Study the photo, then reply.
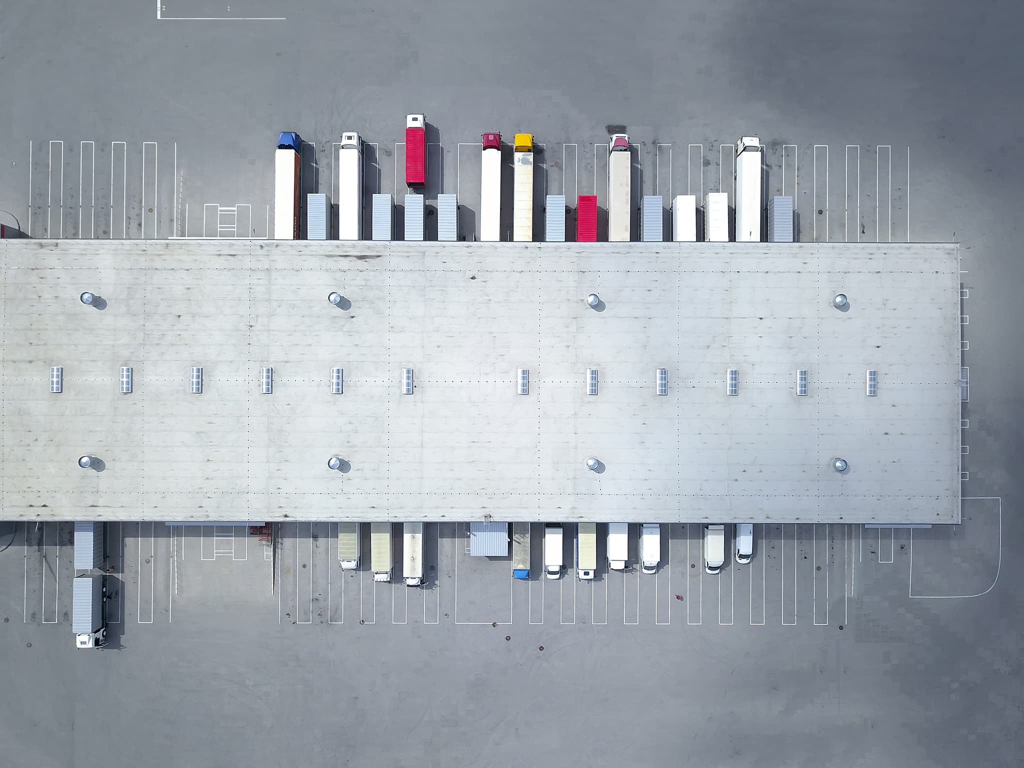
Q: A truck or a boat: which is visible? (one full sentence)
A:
The image shows a truck.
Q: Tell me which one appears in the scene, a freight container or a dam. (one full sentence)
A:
Looking from above, you can make out a freight container.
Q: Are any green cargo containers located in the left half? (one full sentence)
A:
No, there's no green cargo container to be seen in the left half.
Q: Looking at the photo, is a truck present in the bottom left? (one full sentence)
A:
Yes, the scene does show a truck in the bottom left.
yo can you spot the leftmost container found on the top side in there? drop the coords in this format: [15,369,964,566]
[307,194,334,240]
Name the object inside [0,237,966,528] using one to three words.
warehouse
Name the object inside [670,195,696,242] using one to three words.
shipping container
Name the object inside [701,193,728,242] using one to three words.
shipping container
